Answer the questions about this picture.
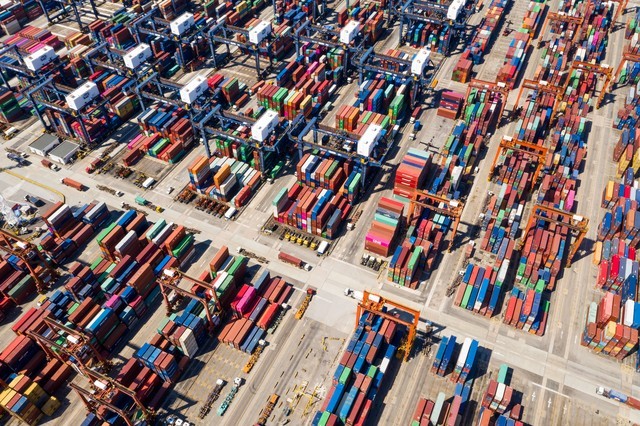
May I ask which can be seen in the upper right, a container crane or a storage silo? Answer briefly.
container crane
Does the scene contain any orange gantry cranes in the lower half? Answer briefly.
Yes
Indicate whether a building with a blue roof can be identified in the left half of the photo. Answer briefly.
No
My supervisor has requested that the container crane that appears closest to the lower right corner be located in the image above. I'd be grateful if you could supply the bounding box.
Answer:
[519,202,589,265]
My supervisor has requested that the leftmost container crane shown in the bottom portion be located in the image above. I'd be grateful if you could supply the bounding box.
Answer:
[0,229,58,292]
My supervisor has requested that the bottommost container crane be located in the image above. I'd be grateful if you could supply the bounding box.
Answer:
[66,364,153,426]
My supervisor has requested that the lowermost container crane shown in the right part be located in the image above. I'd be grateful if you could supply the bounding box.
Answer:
[352,287,421,359]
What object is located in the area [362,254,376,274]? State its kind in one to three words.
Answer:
vehicle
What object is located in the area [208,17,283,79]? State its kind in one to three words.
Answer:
container crane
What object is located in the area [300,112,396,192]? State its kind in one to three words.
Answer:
container crane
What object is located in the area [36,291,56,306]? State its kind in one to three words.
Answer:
vehicle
